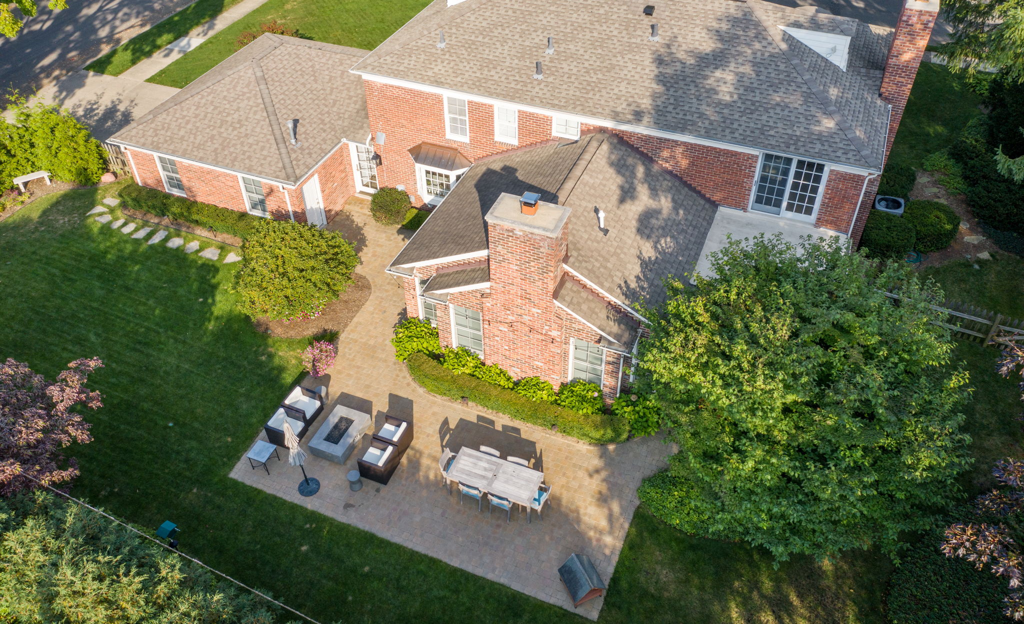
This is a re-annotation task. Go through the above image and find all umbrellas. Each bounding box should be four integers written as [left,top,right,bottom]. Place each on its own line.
[285,417,321,496]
